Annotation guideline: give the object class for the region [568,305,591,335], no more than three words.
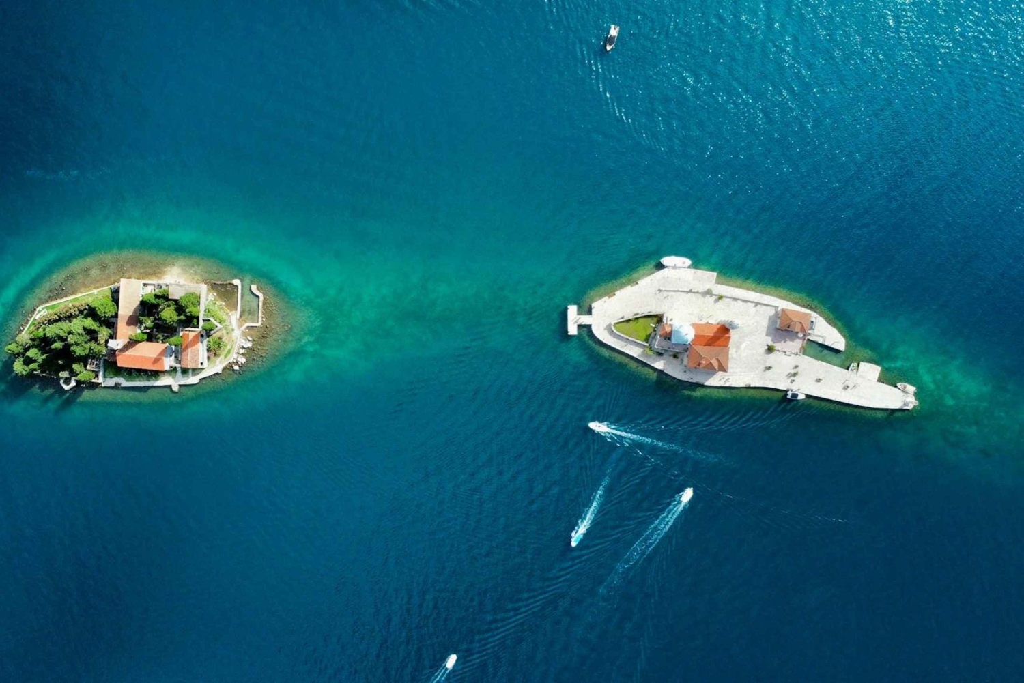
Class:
pier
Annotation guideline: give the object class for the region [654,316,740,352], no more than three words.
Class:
building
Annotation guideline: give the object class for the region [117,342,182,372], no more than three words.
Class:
building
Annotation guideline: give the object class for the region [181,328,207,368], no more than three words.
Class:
house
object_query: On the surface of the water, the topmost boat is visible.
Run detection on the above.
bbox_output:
[606,24,618,52]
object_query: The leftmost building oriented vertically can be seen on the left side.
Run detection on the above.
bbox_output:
[115,279,145,340]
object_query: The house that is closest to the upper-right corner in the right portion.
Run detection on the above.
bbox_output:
[777,308,812,334]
